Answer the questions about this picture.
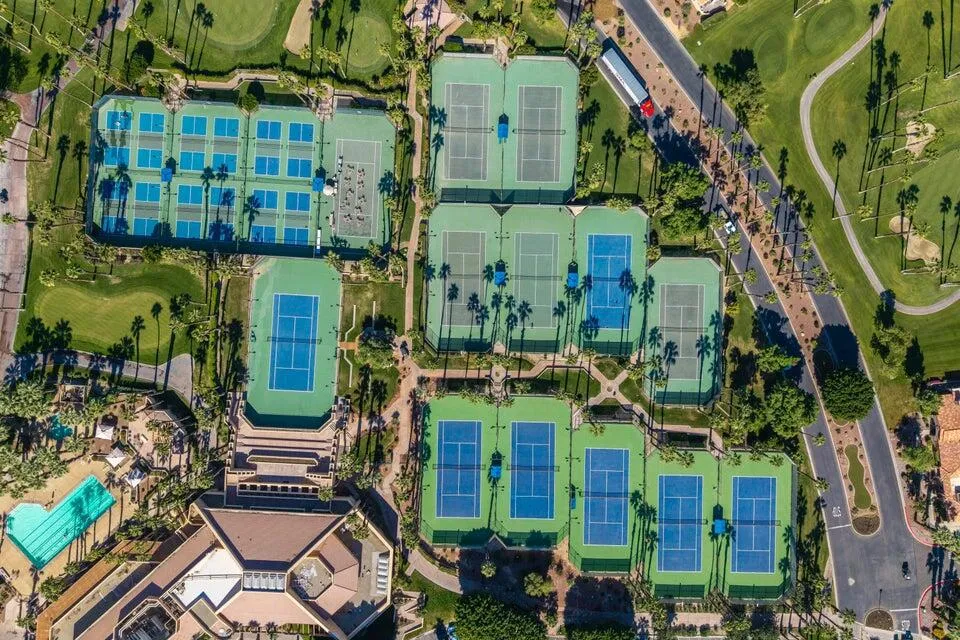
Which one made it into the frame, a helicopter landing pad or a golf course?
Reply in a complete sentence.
The one in the frame is a golf course.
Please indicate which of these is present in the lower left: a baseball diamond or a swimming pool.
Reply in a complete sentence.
What appears in the lower left is a swimming pool.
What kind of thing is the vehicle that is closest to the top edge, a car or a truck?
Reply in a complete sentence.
It turns out the vehicle that is closest to the top edge is a truck.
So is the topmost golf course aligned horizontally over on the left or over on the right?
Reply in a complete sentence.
You can find the topmost golf course aligned horizontally on the left side of the picture.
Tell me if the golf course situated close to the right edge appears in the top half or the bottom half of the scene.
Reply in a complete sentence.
You can find the golf course situated close to the right edge in the top half.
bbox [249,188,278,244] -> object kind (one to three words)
sports court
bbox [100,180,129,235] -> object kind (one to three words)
sports court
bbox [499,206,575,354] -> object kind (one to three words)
tennis court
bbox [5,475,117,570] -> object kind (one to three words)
swimming pool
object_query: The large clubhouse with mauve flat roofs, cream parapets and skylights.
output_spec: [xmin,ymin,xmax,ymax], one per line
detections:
[37,490,397,640]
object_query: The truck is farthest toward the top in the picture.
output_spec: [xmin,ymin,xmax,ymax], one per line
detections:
[602,49,658,125]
